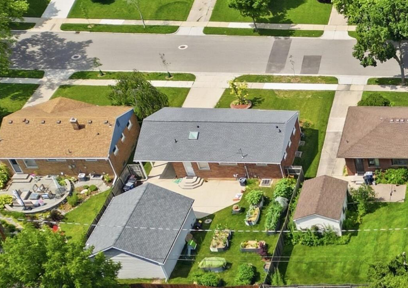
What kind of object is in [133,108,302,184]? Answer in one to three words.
house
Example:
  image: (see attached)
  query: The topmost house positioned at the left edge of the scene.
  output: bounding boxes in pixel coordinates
[0,89,141,180]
